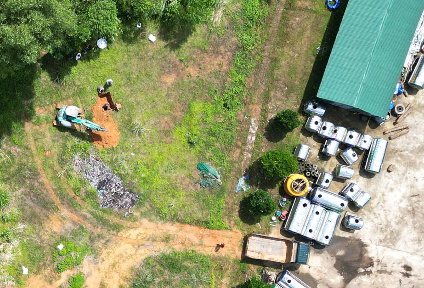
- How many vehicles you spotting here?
2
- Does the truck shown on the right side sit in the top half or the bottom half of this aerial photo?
bottom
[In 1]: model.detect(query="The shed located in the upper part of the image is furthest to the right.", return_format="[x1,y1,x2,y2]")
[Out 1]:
[311,0,424,119]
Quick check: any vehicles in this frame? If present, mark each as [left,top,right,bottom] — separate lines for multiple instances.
[241,232,308,269]
[49,101,113,145]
